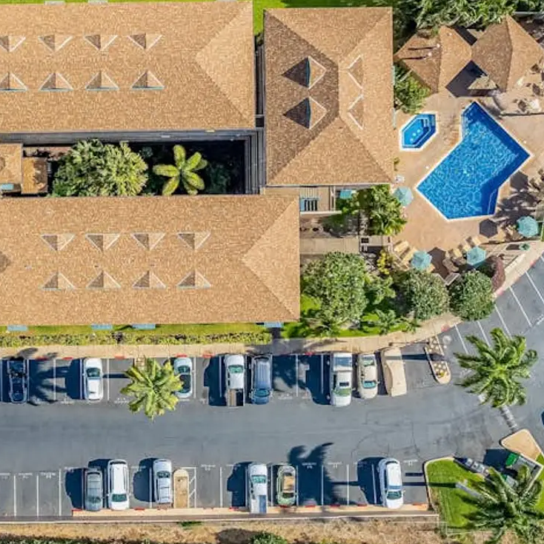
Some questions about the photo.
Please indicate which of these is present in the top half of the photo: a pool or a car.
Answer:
pool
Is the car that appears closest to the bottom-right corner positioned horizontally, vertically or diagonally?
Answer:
vertically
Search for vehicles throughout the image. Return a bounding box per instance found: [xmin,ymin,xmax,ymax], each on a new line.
[7,358,29,403]
[172,356,194,397]
[106,457,132,509]
[355,353,380,398]
[249,355,273,404]
[245,461,270,514]
[328,351,354,406]
[222,354,247,406]
[82,468,105,510]
[375,456,404,508]
[81,356,104,399]
[152,458,174,503]
[274,464,299,507]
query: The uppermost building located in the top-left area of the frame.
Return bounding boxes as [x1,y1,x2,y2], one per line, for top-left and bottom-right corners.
[0,0,256,145]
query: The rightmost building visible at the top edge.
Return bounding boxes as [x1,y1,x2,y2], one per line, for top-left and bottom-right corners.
[470,17,544,95]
